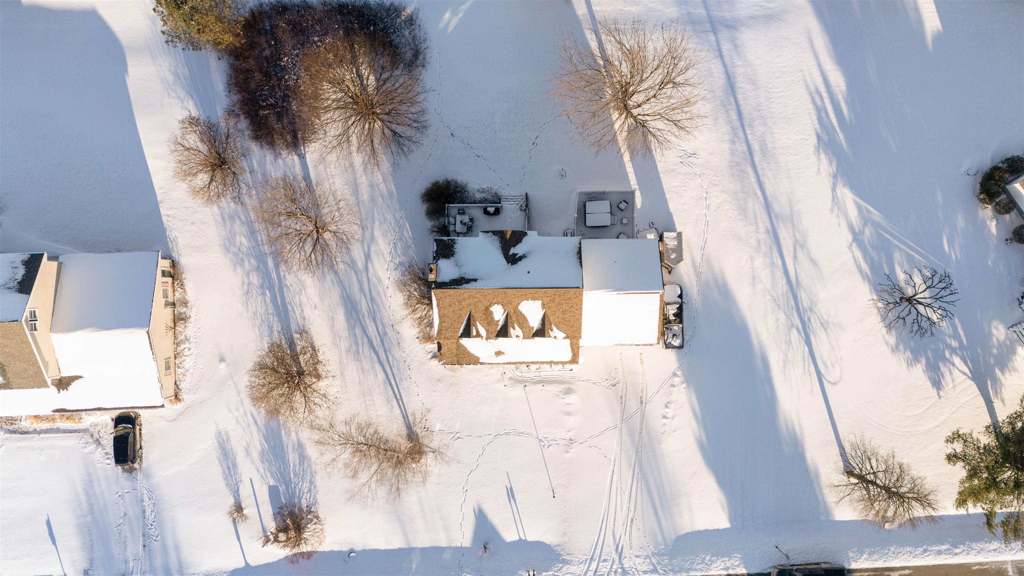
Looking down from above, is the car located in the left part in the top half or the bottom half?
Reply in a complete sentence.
The bottom half of the photo is where the car located in the left part is.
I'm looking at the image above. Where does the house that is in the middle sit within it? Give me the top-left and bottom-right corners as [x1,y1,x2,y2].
[428,230,665,366]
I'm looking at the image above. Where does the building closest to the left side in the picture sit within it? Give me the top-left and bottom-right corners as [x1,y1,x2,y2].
[0,250,178,411]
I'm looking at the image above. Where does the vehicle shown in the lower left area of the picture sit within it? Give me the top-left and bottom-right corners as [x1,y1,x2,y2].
[108,409,140,467]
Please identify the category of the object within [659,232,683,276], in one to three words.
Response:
trailer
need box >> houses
[428,230,665,366]
[0,250,178,411]
[999,175,1024,233]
